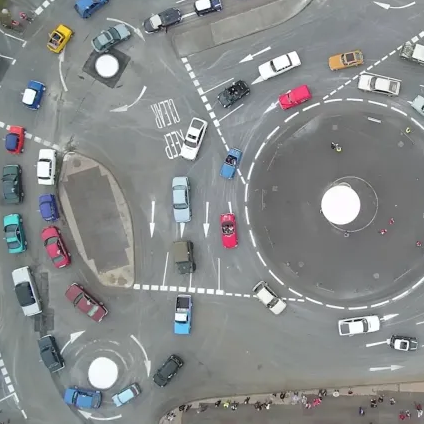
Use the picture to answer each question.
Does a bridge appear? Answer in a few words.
No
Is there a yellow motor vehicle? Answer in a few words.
Yes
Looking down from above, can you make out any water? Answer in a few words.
No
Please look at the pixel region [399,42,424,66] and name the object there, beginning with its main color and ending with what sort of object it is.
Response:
white vehicle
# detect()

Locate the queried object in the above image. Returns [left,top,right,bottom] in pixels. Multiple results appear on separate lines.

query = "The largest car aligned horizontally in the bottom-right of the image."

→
[338,316,380,336]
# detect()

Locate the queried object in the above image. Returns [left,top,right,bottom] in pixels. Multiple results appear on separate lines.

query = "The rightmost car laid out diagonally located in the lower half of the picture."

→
[253,281,287,315]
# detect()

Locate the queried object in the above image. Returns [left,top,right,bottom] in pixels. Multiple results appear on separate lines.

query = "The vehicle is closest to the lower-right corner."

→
[390,335,418,353]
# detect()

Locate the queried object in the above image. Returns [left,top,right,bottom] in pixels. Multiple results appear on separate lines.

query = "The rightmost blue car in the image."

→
[221,147,243,180]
